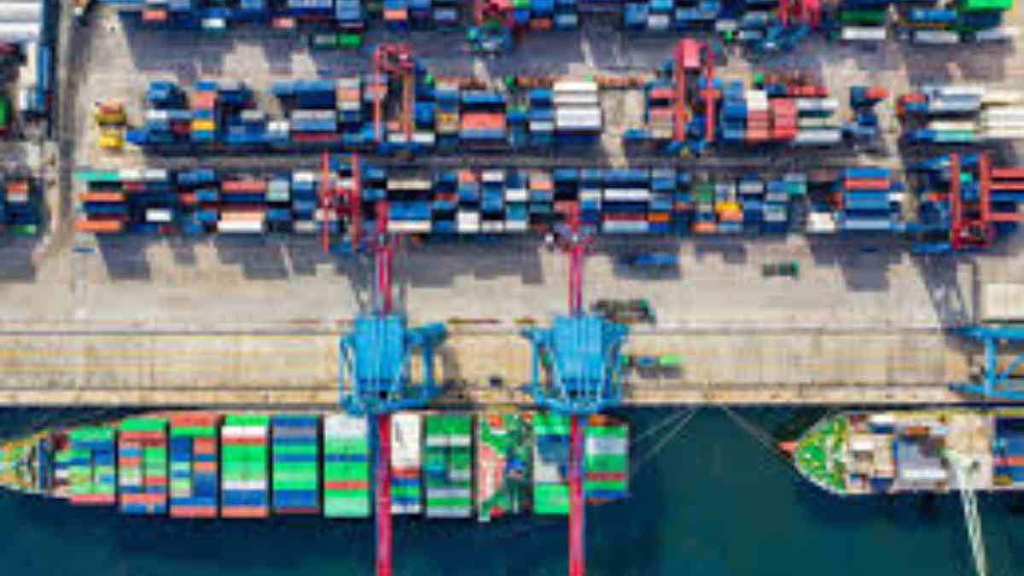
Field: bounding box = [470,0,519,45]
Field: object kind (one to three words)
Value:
container crane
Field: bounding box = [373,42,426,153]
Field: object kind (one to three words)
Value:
container crane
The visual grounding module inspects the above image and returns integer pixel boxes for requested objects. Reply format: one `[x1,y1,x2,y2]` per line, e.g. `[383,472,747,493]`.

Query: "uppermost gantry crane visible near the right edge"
[914,151,991,255]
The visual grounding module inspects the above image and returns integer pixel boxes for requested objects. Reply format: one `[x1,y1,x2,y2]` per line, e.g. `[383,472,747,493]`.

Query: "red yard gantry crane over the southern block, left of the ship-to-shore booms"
[320,152,377,256]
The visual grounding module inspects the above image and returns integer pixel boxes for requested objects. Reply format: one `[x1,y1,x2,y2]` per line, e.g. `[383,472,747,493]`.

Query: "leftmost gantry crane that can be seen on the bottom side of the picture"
[341,203,448,576]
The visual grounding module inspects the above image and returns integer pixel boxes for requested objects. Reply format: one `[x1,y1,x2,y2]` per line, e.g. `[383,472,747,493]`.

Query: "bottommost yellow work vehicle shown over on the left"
[92,132,127,150]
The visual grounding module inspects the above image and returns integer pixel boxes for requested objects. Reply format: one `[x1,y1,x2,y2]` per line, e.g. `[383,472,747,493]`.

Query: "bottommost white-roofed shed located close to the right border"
[977,283,1024,320]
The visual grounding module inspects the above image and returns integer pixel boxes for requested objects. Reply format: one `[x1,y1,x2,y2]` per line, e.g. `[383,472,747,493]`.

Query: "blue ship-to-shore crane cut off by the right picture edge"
[954,329,1024,404]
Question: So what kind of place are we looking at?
port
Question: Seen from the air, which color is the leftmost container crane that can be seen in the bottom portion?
blue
